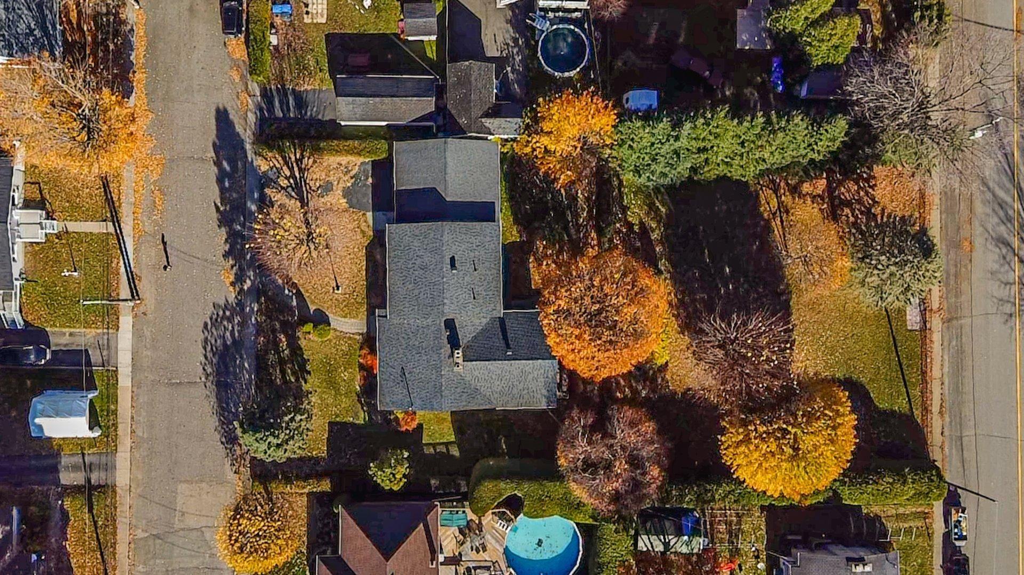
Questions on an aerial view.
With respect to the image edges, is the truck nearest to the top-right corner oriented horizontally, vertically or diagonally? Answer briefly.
diagonally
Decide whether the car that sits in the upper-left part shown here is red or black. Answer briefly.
black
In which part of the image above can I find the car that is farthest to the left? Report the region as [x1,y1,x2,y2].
[0,343,51,366]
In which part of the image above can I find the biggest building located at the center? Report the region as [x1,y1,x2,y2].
[376,136,576,416]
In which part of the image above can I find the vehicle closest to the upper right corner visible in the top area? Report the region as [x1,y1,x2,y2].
[670,46,725,93]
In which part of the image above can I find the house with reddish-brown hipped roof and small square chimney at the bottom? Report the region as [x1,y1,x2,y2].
[316,495,440,575]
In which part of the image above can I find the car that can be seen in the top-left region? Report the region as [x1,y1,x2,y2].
[220,0,245,36]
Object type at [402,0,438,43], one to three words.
shed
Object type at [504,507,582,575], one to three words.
swimming pool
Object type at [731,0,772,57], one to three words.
shed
